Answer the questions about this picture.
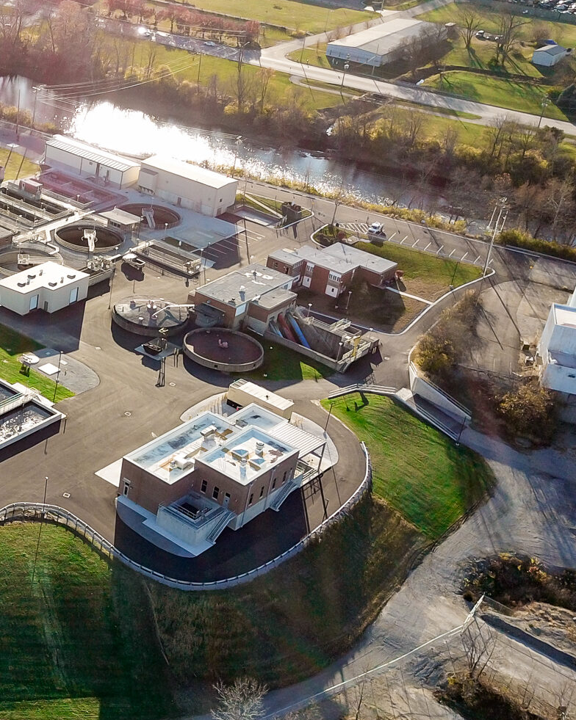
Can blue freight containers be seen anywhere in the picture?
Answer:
No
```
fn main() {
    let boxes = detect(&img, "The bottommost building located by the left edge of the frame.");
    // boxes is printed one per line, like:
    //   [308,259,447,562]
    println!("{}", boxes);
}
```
[0,259,90,317]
